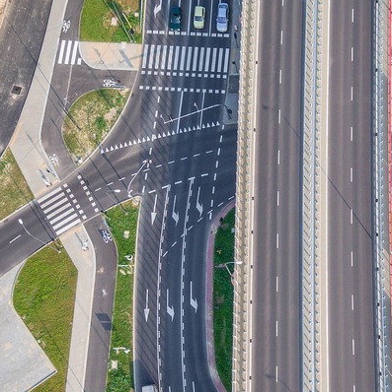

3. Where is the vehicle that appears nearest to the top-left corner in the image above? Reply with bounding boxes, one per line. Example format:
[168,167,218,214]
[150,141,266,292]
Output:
[167,1,181,30]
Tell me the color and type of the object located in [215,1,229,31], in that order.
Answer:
blue vehicle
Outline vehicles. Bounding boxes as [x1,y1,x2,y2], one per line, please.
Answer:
[215,1,229,31]
[167,1,181,30]
[192,3,204,28]
[141,386,157,392]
